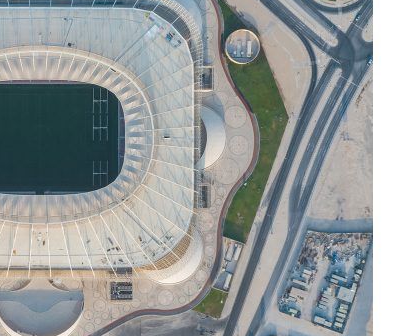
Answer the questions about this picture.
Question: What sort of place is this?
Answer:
sports ground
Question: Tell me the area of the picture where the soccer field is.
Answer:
left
